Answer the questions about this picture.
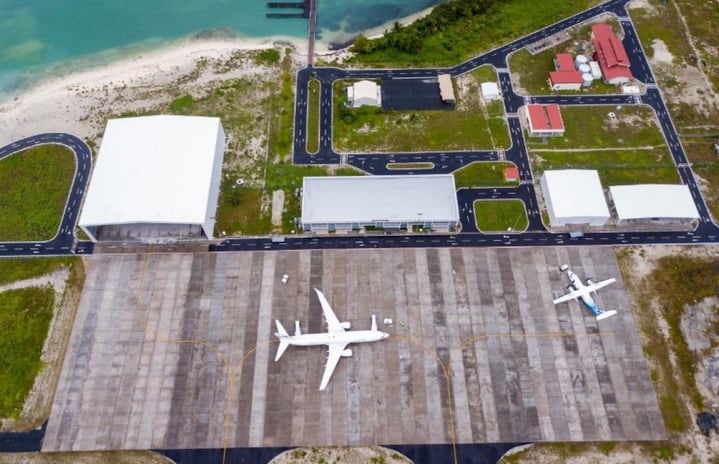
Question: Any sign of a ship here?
No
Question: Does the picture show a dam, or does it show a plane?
plane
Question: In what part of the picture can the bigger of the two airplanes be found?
bottom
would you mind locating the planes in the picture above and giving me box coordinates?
[270,288,390,392]
[551,270,617,324]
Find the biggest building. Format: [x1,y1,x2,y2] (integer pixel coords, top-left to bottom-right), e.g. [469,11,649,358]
[79,116,227,241]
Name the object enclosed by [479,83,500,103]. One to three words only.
shed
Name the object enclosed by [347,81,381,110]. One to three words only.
house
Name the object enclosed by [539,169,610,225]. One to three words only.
building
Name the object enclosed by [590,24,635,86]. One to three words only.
building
